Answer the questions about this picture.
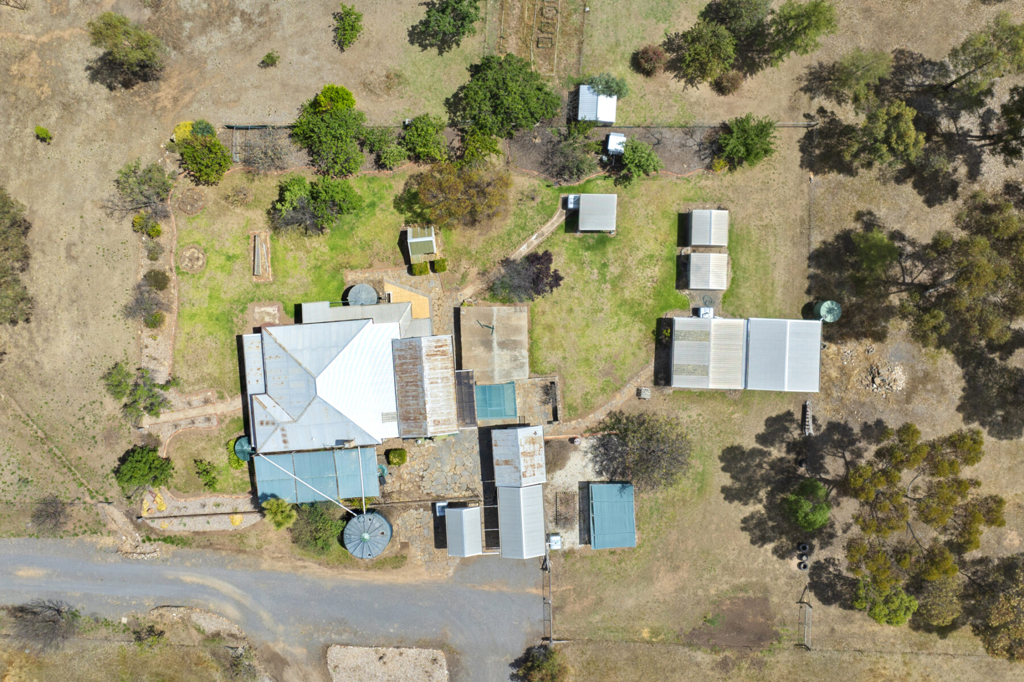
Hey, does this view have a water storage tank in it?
Yes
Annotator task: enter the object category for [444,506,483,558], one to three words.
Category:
shed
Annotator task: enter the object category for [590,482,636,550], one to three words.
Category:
shed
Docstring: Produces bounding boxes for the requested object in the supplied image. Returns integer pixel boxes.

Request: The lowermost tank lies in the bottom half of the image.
[343,508,395,561]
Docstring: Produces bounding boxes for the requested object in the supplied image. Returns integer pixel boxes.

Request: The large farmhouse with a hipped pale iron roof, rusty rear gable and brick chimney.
[241,301,478,455]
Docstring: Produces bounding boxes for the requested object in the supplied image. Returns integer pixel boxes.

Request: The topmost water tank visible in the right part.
[814,300,842,322]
